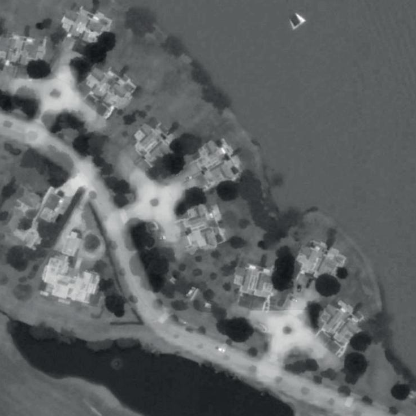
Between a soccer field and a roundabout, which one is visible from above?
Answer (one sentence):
There is a roundabout in the scene.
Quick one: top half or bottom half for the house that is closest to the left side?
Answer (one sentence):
It is in the top half that the house that is closest to the left side appears.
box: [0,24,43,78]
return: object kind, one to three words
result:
house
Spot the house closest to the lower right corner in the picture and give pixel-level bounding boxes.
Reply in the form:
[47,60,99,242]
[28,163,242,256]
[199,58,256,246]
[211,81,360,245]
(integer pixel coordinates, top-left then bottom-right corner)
[311,293,371,356]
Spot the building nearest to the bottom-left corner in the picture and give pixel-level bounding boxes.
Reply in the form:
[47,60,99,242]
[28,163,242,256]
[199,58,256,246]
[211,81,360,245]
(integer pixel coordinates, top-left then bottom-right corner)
[37,231,99,305]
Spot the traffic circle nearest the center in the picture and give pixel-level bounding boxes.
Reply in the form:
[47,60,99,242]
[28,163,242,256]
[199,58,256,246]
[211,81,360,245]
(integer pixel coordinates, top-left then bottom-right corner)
[106,152,192,246]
